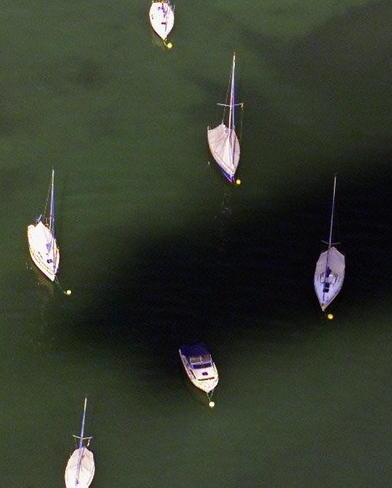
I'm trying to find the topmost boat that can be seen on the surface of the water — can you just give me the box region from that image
[150,0,176,45]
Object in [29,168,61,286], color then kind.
white boat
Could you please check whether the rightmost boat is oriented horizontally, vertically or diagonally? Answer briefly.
vertically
